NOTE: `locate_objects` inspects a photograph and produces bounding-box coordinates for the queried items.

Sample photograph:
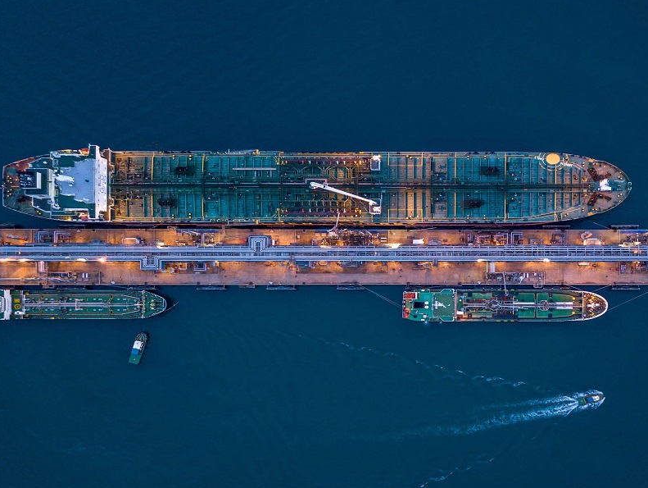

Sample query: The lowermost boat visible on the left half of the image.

[128,333,145,365]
